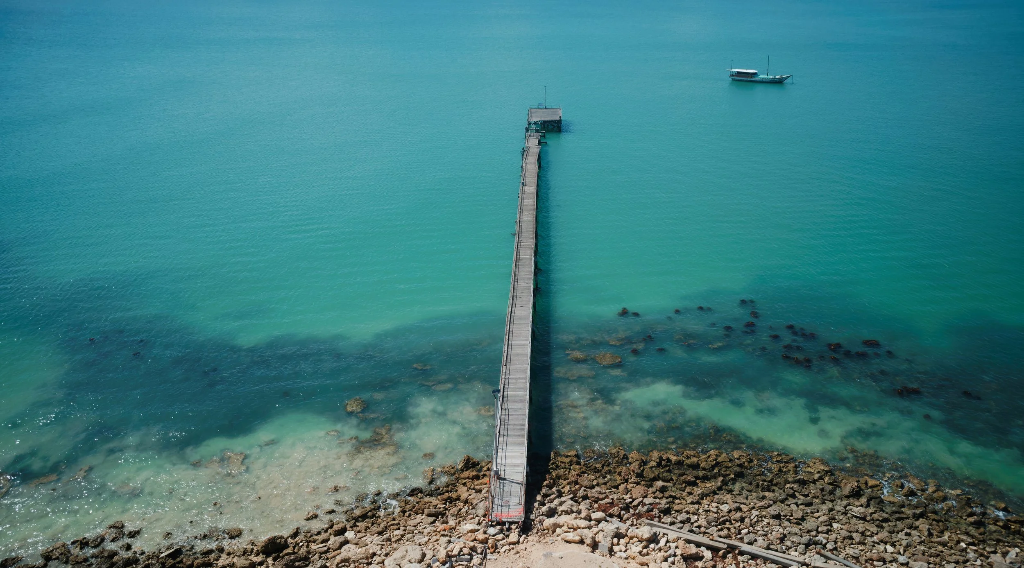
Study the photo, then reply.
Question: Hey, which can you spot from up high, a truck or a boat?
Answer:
boat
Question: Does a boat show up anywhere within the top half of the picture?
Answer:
Yes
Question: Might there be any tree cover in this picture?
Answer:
No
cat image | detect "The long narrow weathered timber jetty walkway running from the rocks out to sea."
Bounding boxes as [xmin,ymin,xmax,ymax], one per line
[489,144,546,529]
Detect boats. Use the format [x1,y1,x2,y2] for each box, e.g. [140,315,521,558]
[726,56,794,84]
